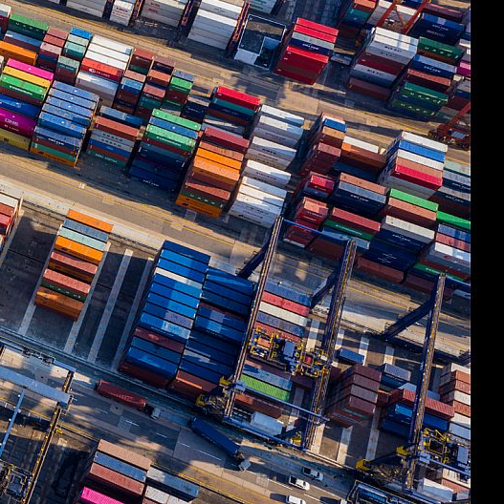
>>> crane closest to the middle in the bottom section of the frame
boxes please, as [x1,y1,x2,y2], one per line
[195,213,362,452]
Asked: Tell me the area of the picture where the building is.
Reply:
top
